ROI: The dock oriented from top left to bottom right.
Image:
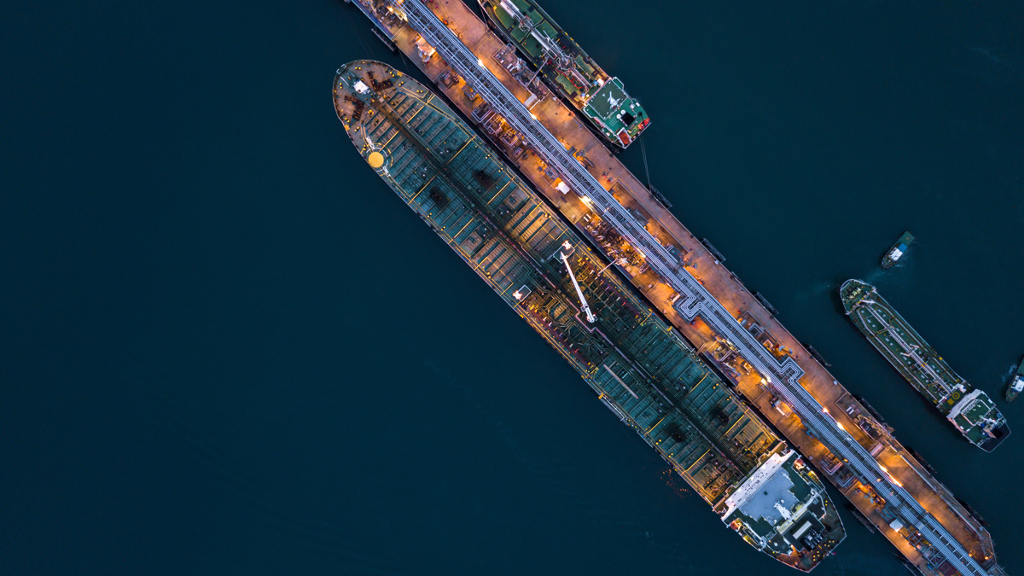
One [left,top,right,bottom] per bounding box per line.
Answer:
[351,0,1010,576]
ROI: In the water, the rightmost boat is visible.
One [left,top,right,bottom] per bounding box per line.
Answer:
[1004,357,1024,402]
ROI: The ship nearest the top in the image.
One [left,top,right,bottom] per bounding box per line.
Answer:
[471,0,652,150]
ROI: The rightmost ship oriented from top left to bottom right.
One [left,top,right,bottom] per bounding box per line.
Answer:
[838,280,1012,452]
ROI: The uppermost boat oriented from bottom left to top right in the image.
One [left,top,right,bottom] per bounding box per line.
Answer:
[881,229,917,268]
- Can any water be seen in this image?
Yes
